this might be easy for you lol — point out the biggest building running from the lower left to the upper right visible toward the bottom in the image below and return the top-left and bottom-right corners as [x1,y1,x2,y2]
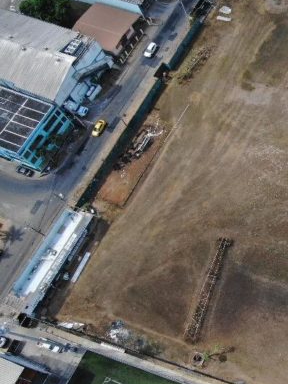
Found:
[12,211,93,301]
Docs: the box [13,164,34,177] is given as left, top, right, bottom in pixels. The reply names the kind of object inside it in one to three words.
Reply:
vehicle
